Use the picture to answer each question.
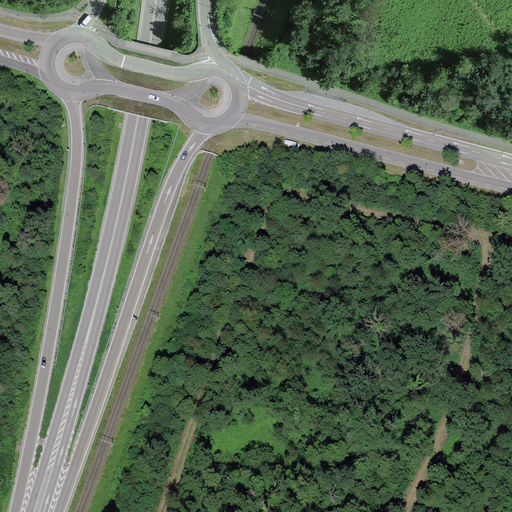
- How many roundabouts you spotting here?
2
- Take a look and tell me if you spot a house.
No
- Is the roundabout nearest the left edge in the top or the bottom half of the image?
top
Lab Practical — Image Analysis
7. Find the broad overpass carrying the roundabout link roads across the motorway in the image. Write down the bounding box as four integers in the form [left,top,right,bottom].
[110,38,184,122]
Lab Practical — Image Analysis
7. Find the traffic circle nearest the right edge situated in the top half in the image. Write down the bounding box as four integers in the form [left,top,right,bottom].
[162,60,251,135]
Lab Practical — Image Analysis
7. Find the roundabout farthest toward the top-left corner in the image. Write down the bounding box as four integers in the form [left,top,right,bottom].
[38,26,118,102]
